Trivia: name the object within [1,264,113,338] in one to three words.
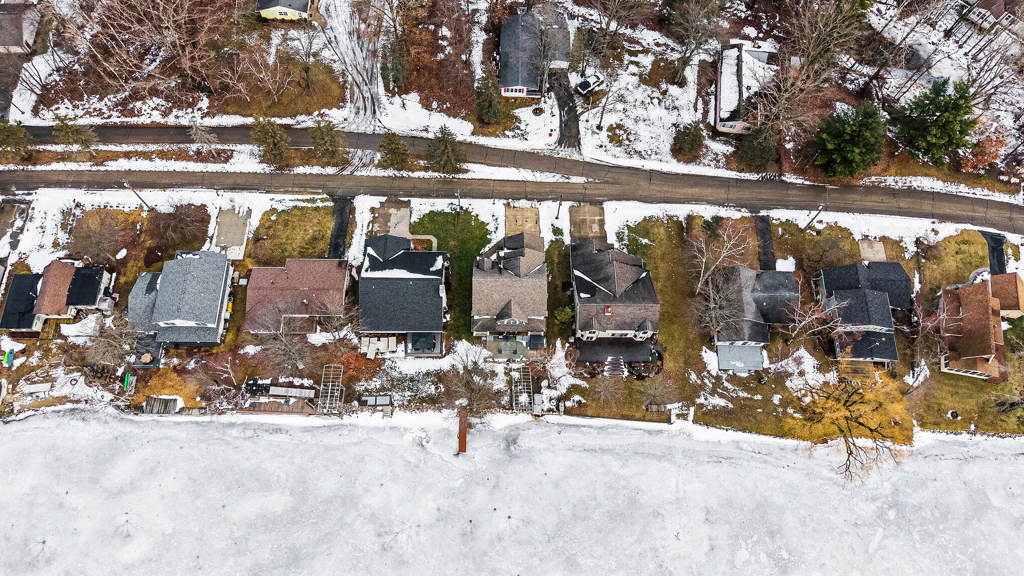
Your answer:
house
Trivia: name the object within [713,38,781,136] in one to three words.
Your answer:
house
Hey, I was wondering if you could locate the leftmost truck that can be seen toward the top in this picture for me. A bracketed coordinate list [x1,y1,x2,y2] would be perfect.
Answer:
[576,73,606,97]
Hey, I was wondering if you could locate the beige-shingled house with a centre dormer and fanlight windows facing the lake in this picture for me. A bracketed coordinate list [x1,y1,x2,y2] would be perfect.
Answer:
[471,233,549,360]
